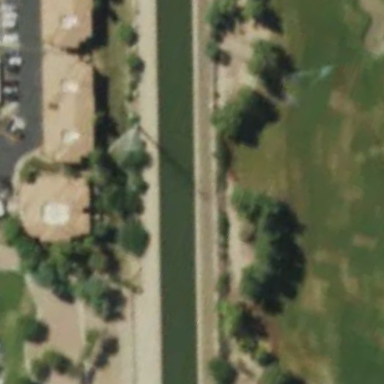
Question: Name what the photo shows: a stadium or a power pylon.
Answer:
power pylon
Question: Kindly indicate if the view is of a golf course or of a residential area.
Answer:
golf course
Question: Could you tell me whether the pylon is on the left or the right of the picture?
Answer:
left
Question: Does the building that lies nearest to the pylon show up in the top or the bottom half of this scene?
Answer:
top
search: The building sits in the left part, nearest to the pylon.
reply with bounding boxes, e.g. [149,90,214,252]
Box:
[42,53,100,163]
